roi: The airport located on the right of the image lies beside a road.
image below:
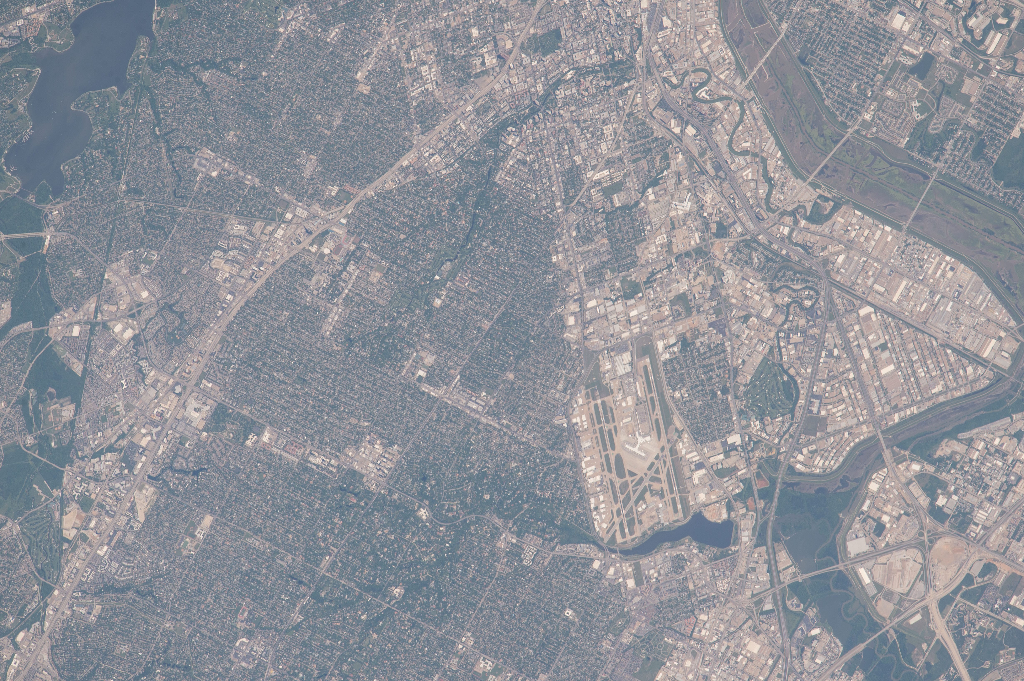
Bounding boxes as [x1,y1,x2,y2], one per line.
[571,332,697,547]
